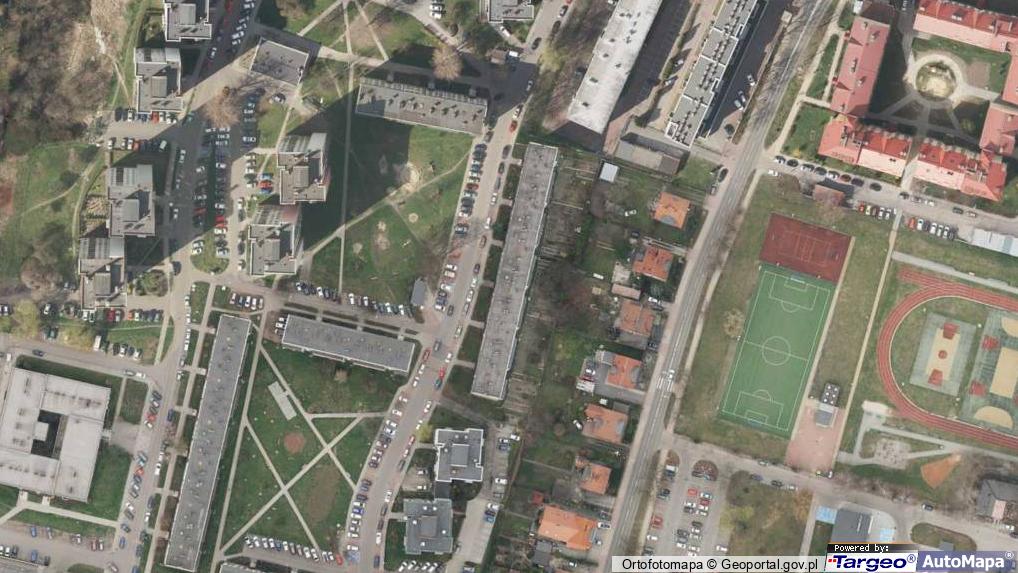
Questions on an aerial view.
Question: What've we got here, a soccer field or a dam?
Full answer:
There is a soccer field in the scene.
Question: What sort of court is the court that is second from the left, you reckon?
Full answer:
What you see as the court that is second from the left is a basketball court.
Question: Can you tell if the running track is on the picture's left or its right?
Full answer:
It is on the right.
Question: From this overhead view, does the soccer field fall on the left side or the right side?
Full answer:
The soccer field is on the right side of the image.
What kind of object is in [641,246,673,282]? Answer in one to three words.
house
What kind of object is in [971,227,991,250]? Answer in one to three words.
building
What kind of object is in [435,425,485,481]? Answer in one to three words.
building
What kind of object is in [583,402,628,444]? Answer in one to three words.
house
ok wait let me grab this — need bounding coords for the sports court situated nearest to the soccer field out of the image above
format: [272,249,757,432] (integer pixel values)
[761,213,852,283]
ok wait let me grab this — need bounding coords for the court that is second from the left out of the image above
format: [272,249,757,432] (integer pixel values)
[911,313,977,396]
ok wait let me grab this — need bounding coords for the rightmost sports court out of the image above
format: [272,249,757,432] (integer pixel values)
[962,309,1018,432]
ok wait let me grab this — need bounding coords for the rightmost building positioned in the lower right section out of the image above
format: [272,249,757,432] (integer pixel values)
[977,477,1018,524]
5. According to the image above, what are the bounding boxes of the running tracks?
[878,277,1018,448]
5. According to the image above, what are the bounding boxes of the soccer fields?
[718,262,836,440]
